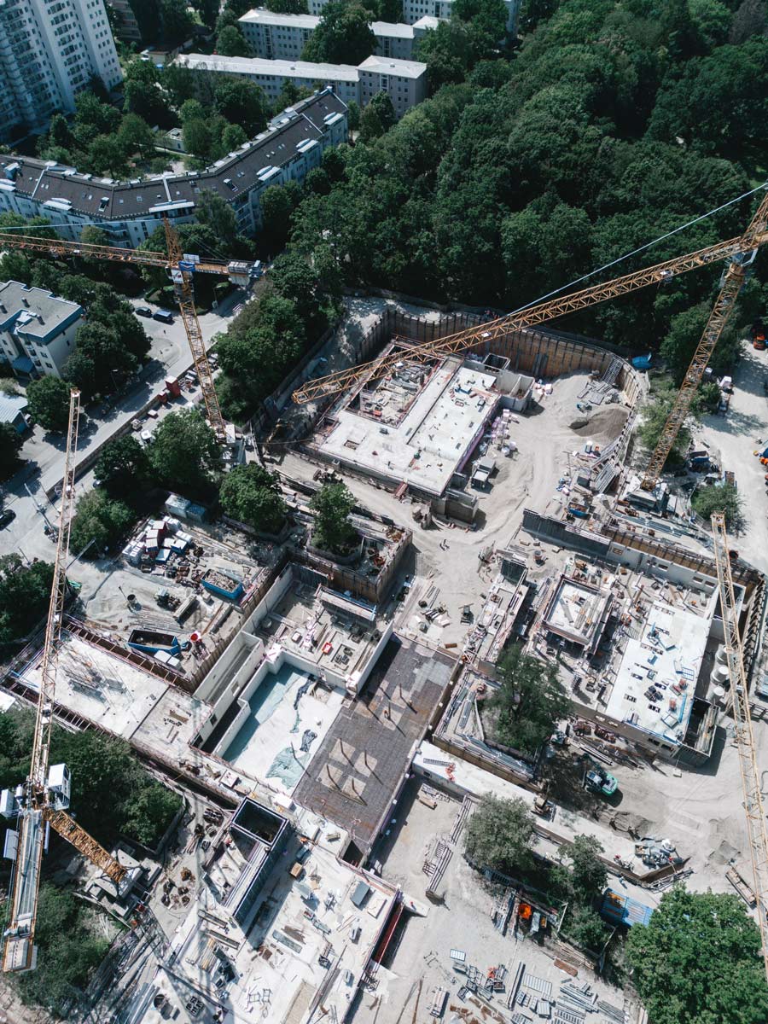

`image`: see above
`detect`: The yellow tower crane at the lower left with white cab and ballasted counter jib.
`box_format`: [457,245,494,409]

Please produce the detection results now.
[2,388,148,976]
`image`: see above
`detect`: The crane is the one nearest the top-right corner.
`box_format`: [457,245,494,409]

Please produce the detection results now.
[286,166,768,503]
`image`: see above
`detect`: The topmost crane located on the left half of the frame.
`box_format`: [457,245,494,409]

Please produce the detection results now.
[0,208,266,445]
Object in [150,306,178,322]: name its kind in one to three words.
vehicle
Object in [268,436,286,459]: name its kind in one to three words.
work vehicle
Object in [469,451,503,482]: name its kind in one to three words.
truck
